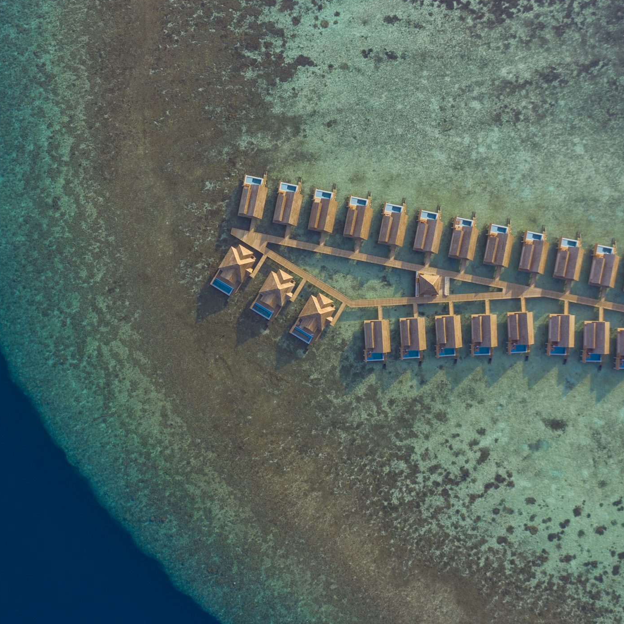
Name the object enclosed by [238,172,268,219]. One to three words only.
house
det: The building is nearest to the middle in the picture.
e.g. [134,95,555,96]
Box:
[289,293,337,350]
